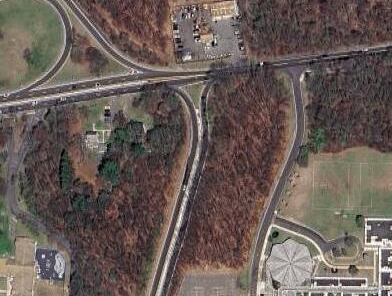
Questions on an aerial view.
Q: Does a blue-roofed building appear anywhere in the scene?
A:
No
